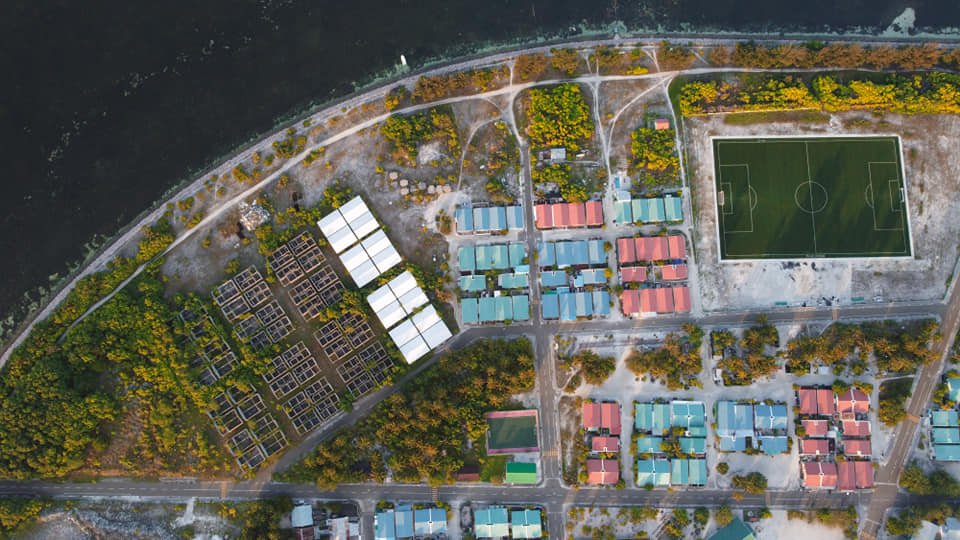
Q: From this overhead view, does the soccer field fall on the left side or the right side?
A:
right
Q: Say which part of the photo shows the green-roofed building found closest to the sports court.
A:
bottom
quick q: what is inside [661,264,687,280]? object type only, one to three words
house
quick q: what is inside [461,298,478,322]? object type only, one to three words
house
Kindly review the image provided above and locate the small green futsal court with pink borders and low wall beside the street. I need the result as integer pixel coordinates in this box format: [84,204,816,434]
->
[487,410,540,456]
